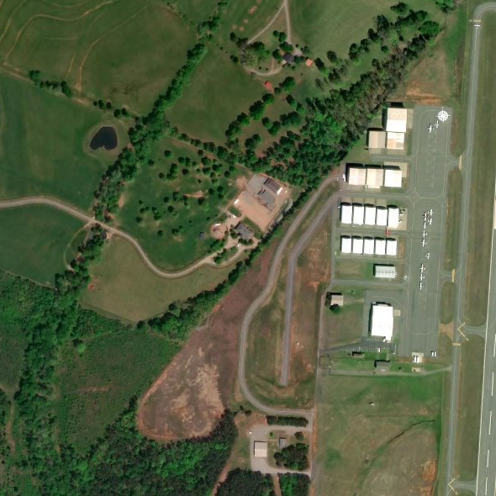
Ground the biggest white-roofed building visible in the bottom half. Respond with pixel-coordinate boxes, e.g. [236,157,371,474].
[371,305,394,343]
